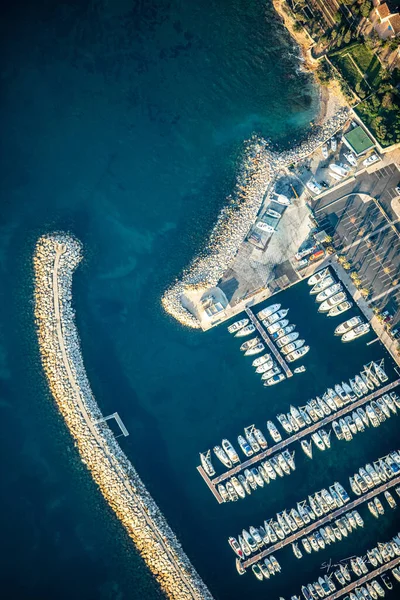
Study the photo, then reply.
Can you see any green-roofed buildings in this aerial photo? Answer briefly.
Yes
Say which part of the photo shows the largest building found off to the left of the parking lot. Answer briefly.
center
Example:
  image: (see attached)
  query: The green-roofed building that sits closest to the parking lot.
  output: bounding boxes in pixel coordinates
[343,125,375,159]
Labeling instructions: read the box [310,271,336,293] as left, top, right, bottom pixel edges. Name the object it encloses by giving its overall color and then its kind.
white boat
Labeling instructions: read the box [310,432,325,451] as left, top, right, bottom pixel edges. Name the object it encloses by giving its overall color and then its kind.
white boat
